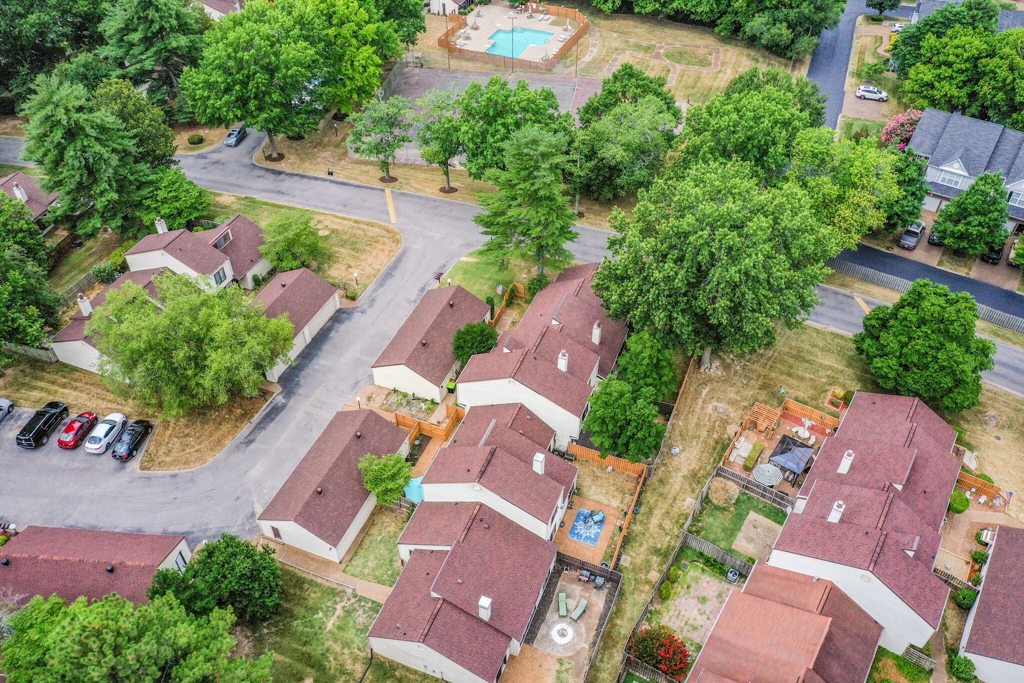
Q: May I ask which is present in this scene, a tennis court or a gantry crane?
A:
tennis court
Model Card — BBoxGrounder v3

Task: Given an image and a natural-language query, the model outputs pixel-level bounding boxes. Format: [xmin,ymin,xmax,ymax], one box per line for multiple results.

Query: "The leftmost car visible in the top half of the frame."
[224,132,245,147]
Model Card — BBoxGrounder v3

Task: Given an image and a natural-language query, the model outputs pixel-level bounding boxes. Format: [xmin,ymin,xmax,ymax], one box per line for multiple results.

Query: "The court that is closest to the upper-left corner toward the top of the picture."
[346,68,606,172]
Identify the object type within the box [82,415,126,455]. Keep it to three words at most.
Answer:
car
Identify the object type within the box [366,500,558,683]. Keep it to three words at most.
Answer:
house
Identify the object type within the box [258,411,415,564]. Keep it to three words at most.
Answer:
building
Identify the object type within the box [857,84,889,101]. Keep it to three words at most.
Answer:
car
